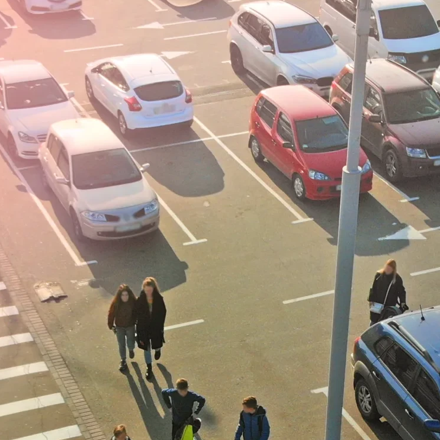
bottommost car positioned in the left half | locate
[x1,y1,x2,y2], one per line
[35,118,162,244]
